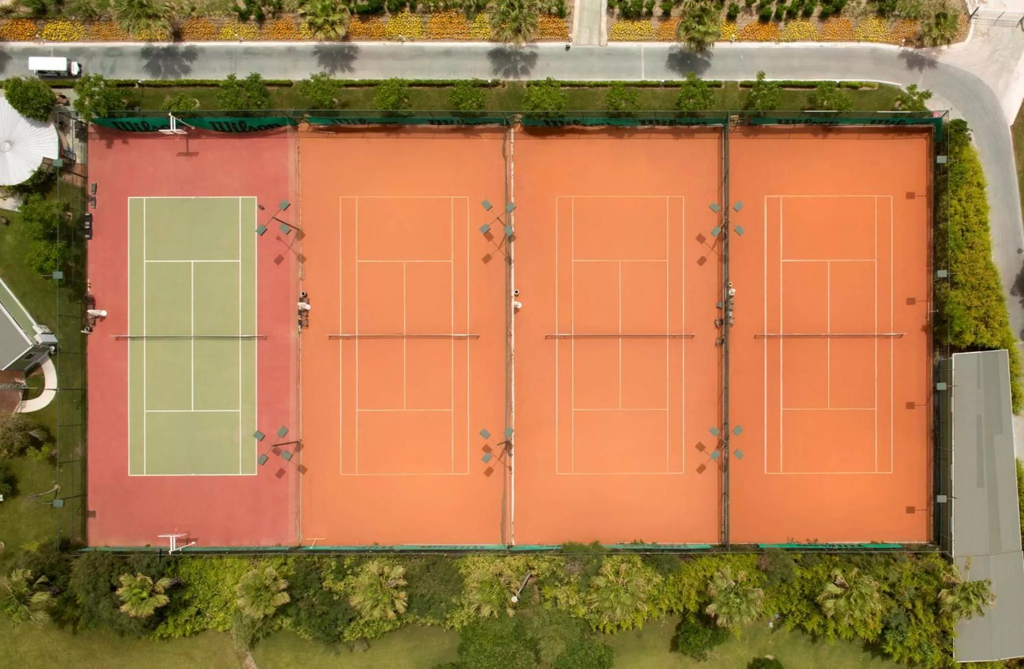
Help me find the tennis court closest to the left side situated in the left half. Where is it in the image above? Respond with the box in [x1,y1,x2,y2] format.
[87,125,300,545]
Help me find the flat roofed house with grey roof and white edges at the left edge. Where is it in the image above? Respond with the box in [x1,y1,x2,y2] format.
[0,276,59,373]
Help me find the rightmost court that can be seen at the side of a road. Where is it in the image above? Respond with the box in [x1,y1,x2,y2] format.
[724,125,933,545]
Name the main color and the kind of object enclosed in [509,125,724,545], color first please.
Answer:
orange tennis court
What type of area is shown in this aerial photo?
sports ground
